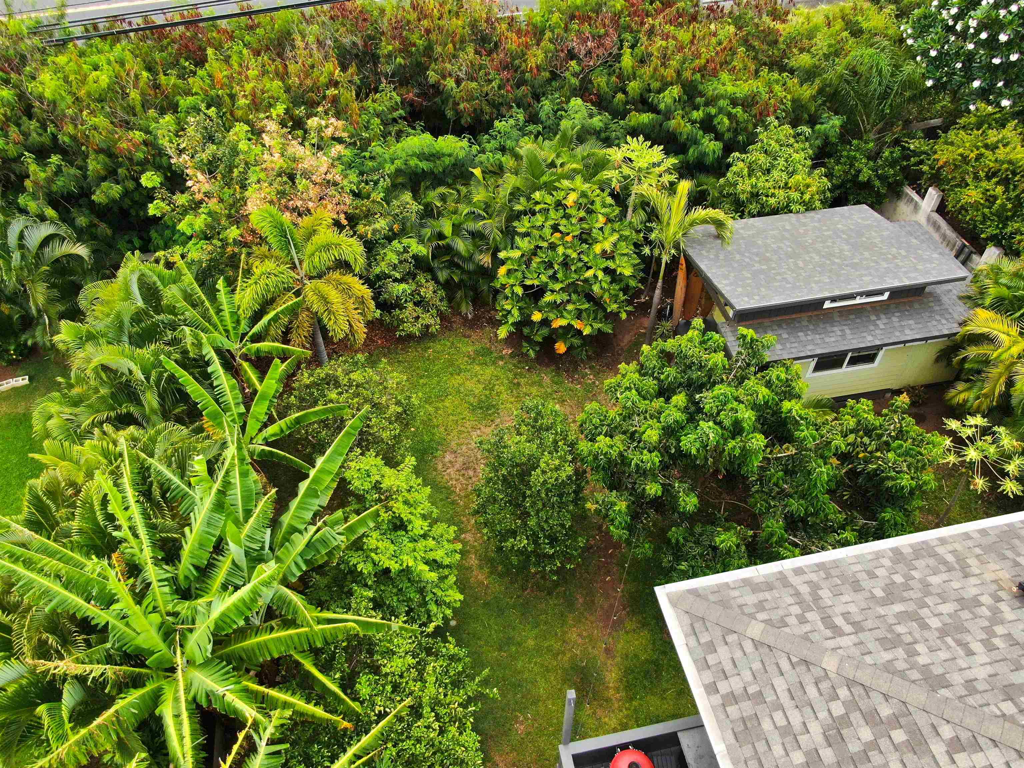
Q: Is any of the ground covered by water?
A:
No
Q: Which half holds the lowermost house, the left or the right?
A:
right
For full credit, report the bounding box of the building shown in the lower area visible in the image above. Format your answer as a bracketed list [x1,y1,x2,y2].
[641,502,1024,768]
